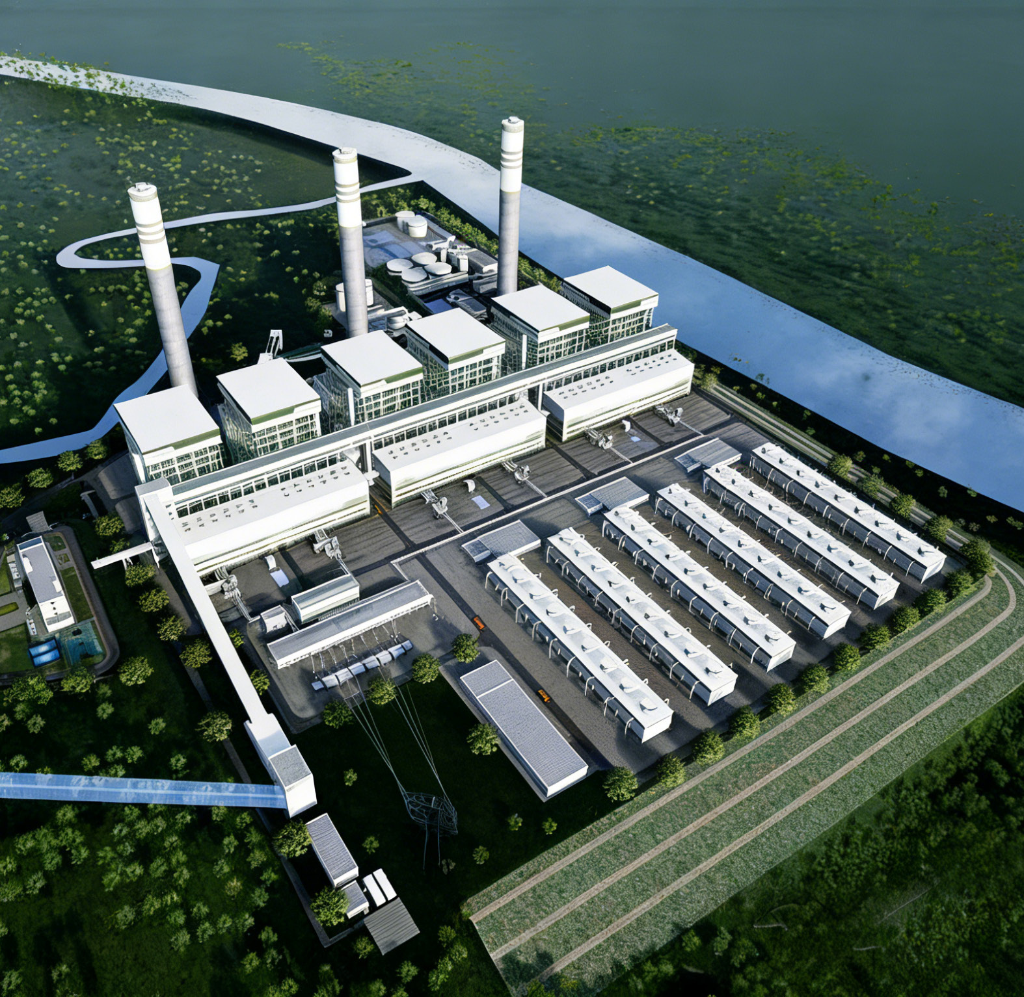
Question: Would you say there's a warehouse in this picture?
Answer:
Yes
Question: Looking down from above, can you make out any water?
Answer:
Yes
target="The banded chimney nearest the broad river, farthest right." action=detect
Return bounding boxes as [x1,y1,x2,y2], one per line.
[497,117,527,298]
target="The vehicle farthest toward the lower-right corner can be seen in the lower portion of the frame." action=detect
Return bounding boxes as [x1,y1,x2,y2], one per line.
[537,685,553,703]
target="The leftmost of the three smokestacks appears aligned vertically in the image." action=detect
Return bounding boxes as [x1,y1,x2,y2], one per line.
[123,183,199,400]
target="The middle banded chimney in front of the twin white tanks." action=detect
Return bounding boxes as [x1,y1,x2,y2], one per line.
[330,147,370,340]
